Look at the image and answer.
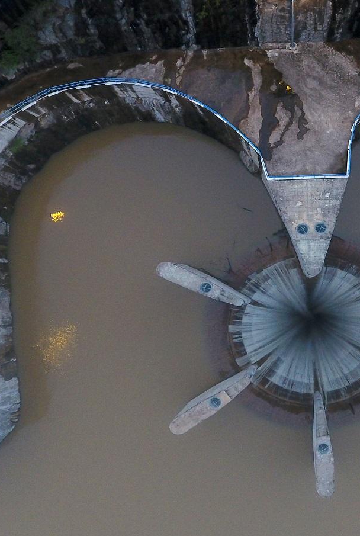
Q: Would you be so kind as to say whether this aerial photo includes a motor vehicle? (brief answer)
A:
No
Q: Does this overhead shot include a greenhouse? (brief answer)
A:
No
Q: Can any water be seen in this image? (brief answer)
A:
Yes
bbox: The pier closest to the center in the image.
[157,260,268,308]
